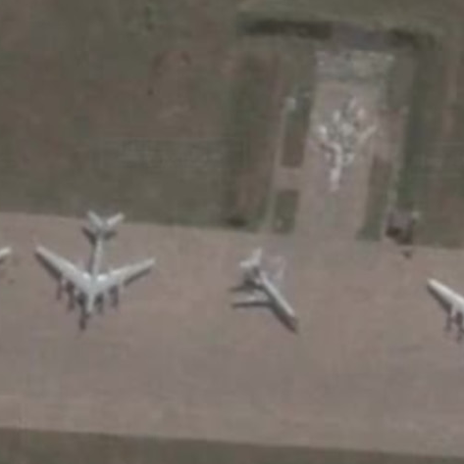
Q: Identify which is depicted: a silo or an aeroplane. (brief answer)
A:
aeroplane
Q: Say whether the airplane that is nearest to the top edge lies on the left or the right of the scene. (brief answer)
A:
right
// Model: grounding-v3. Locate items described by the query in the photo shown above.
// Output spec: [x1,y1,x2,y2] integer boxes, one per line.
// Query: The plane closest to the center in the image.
[235,249,300,324]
